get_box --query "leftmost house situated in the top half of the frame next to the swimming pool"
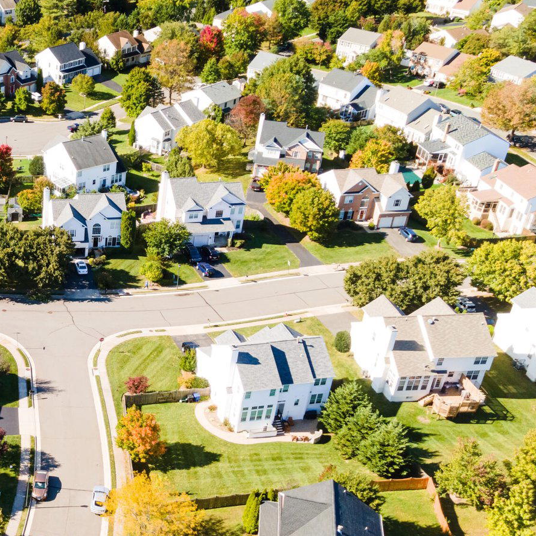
[331,148,404,233]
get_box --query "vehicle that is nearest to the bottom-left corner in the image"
[32,469,49,499]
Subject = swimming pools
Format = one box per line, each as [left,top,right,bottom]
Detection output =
[401,165,421,184]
